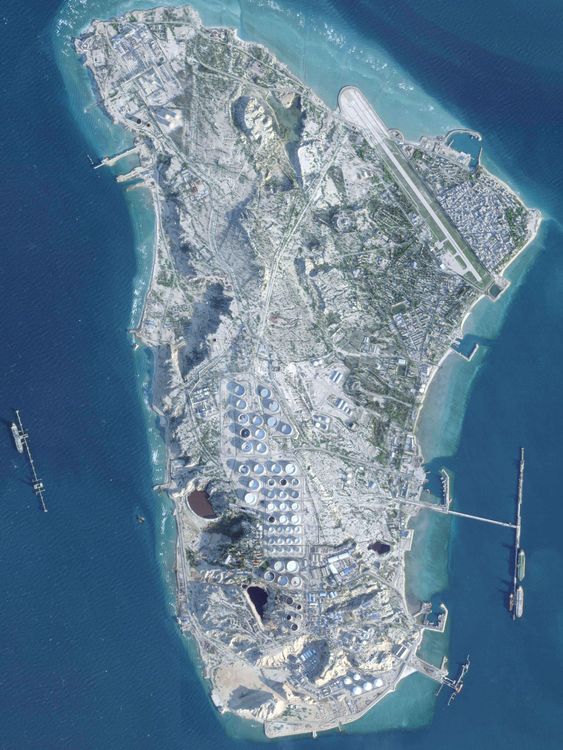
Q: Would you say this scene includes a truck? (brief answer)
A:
No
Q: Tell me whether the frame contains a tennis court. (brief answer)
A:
No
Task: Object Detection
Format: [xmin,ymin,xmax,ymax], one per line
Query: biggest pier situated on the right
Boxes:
[421,448,523,620]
